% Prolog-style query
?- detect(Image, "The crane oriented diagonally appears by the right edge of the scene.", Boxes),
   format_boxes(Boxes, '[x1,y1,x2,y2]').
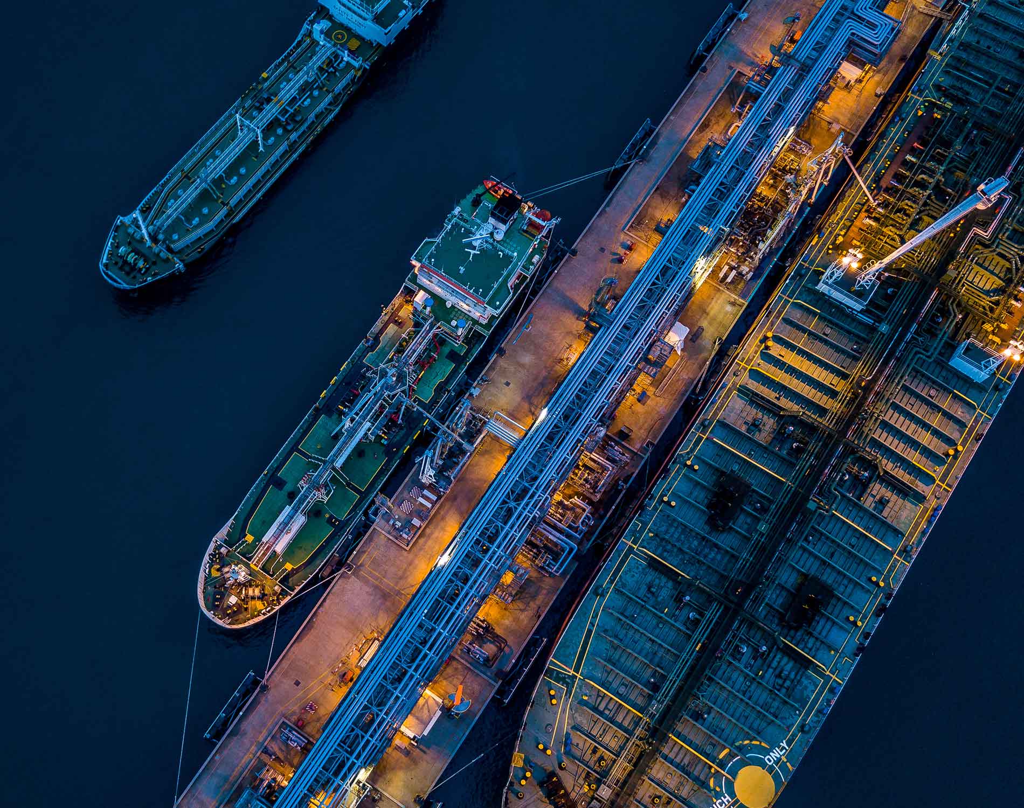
[854,167,1021,281]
